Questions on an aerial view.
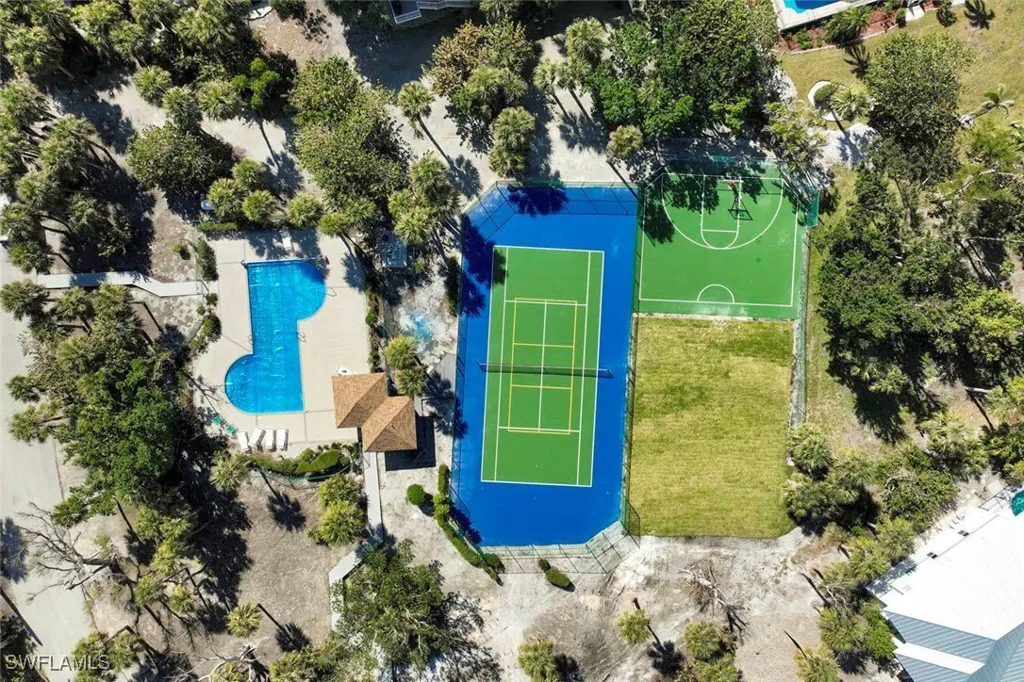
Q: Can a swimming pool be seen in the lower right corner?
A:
No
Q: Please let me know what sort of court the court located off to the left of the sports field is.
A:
tennis court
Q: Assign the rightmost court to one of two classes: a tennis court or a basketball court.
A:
basketball court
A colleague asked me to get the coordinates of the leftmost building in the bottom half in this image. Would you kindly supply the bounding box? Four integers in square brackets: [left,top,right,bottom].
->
[332,373,417,452]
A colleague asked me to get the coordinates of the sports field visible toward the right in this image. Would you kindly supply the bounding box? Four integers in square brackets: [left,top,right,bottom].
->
[630,316,797,538]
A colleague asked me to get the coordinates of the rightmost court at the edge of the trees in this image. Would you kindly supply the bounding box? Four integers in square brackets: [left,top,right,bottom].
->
[633,158,804,319]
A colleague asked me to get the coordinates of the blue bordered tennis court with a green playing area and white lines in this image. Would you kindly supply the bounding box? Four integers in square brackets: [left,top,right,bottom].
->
[451,185,638,547]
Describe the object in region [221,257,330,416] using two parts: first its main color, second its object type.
blue swimming pool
